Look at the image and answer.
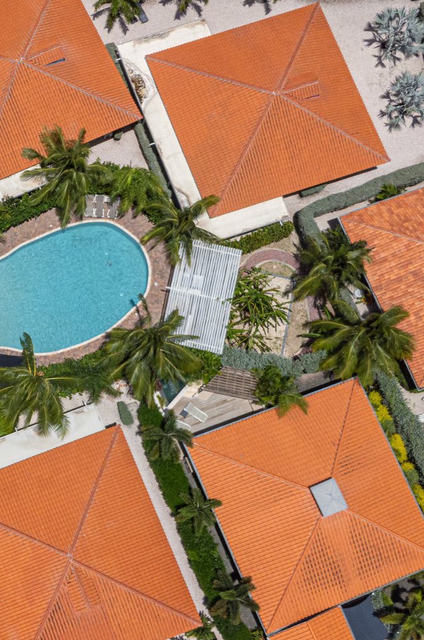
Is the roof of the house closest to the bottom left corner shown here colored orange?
Yes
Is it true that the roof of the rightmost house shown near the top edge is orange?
Yes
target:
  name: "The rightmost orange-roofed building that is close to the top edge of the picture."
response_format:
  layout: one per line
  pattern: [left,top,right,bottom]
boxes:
[117,0,392,247]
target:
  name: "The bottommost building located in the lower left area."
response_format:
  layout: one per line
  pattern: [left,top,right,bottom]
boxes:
[0,403,204,640]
